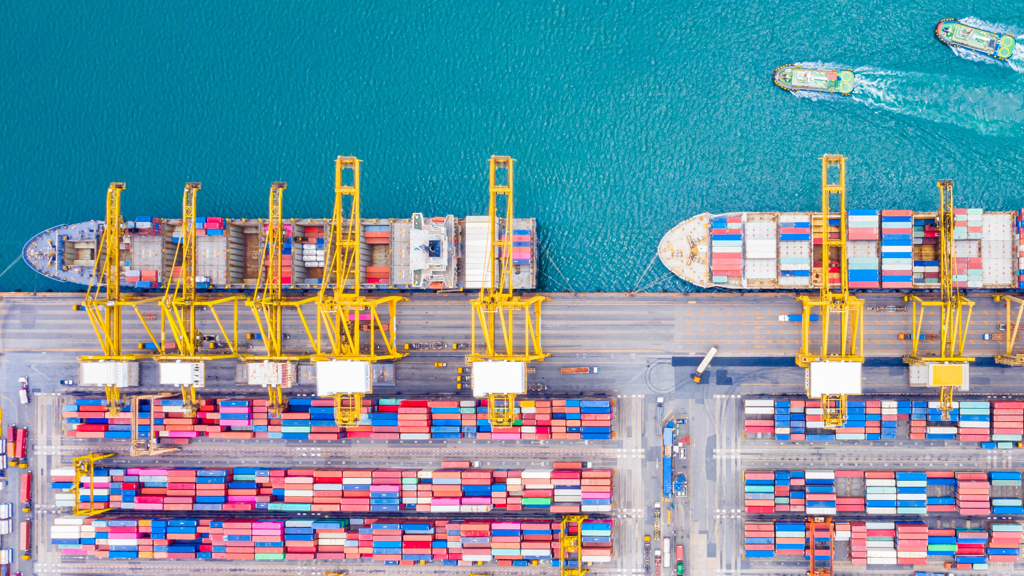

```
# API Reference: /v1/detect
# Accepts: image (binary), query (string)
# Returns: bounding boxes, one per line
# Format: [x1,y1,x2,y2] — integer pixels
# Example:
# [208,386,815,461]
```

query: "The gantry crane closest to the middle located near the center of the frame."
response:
[469,155,560,429]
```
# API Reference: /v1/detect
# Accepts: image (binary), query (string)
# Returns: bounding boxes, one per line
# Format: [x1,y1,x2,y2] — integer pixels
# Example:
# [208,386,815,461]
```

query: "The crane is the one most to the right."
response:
[986,296,1024,361]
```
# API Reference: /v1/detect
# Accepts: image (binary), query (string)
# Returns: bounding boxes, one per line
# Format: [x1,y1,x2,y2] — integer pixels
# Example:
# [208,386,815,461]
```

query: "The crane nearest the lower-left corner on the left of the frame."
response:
[72,449,127,513]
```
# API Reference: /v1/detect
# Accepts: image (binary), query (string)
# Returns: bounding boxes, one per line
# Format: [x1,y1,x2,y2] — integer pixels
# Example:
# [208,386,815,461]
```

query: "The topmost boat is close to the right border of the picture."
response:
[934,17,1017,61]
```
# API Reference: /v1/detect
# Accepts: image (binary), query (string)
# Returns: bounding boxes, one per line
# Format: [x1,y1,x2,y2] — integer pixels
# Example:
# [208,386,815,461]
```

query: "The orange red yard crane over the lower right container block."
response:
[800,512,836,576]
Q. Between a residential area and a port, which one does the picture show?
port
